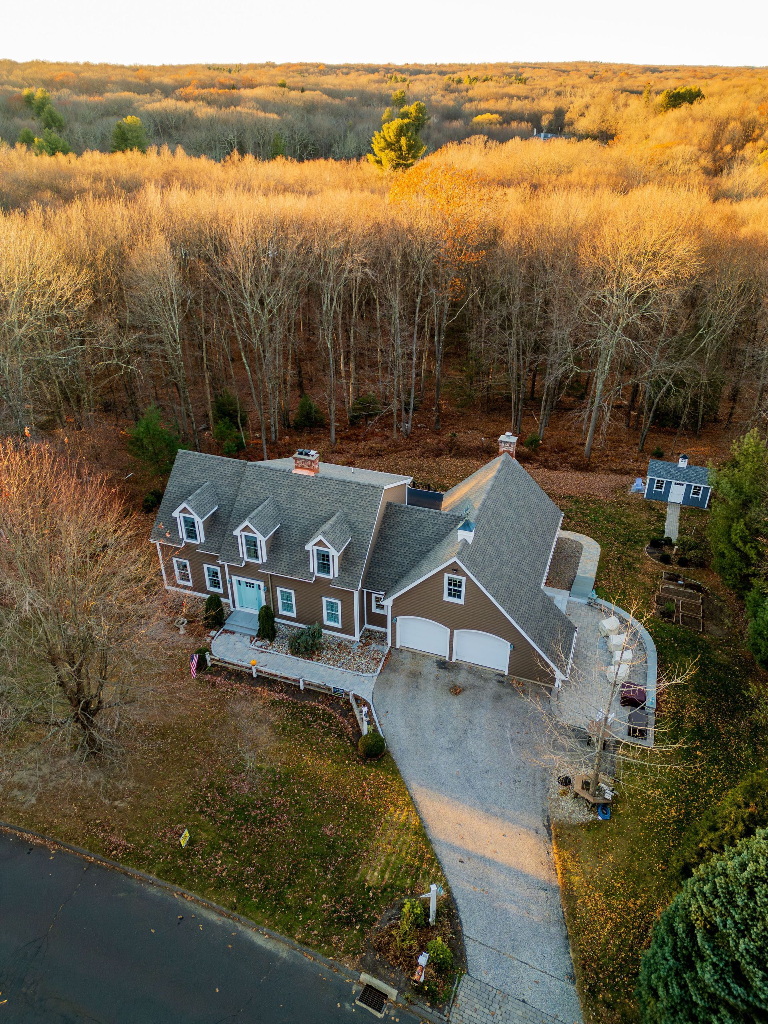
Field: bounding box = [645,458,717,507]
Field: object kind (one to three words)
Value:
shed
